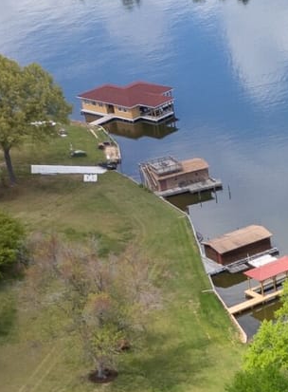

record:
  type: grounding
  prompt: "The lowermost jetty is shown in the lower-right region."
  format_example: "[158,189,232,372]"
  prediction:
[225,276,287,313]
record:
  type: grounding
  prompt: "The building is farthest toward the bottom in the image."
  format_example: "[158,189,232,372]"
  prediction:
[193,226,283,275]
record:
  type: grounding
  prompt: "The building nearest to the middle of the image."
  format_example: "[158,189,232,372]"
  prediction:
[129,154,224,194]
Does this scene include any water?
Yes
